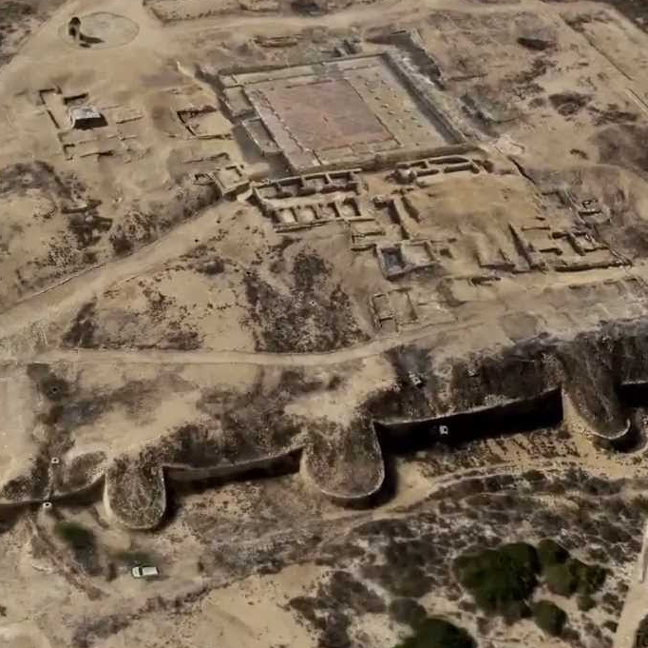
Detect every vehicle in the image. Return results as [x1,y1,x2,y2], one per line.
[133,568,158,581]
